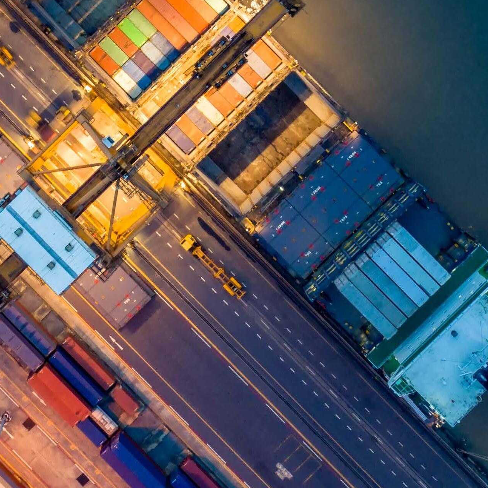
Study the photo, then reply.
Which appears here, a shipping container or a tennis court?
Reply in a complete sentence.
Of the two, only a shipping container appears.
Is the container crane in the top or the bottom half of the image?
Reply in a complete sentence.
The container crane is in the top half of the image.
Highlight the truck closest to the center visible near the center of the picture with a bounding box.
[178,232,248,304]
